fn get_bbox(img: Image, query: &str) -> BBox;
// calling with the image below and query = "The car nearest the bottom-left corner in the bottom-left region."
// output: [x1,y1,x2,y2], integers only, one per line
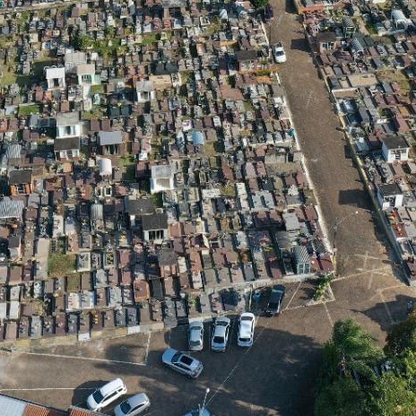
[86,376,128,413]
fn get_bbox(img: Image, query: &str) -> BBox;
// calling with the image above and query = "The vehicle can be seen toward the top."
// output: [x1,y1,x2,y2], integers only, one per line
[272,44,285,61]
